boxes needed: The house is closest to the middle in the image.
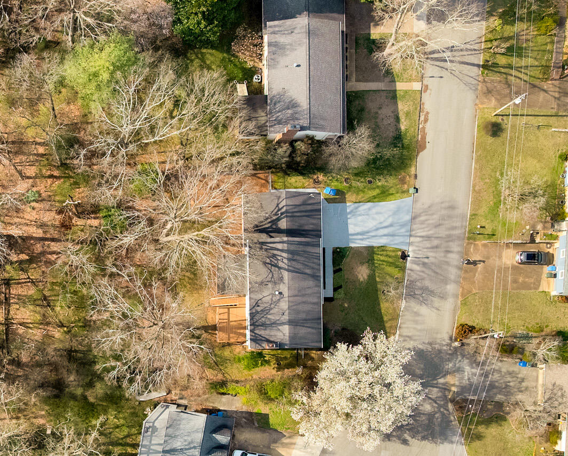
[208,192,333,350]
